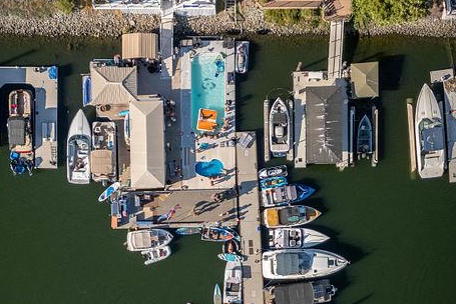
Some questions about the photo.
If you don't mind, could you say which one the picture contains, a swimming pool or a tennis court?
swimming pool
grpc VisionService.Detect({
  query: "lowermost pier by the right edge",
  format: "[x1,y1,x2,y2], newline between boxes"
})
[443,82,456,182]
